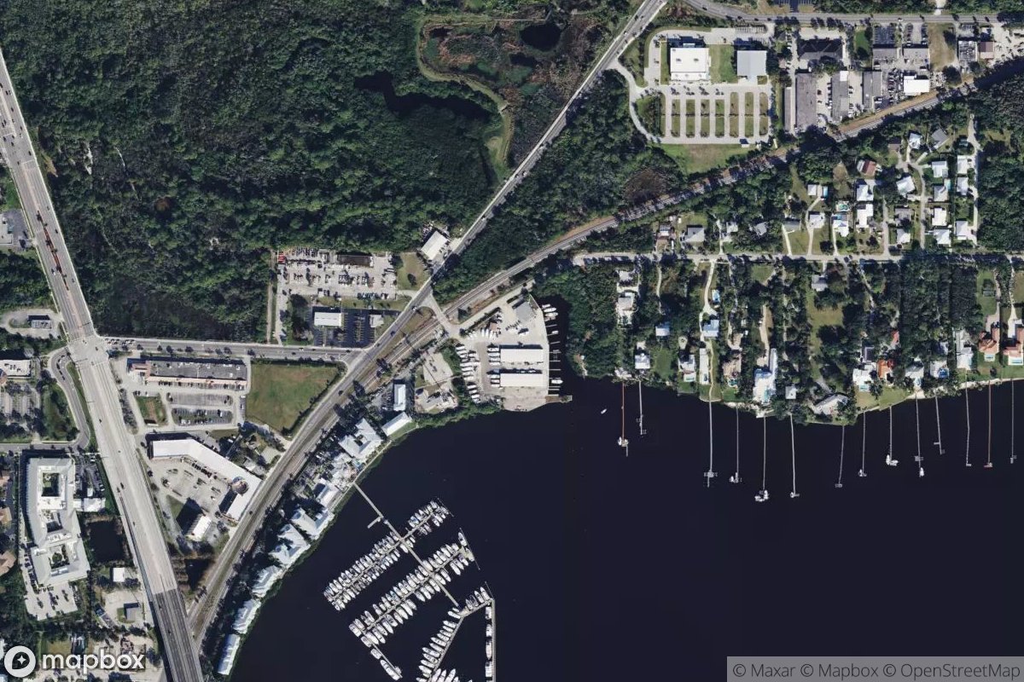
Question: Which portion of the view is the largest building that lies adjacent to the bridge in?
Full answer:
You can find the largest building that lies adjacent to the bridge in the bottom left area of the picture.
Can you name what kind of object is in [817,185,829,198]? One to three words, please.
swimming pool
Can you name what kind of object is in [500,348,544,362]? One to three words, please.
shed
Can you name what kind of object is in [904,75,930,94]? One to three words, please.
building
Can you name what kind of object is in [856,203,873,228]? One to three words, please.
house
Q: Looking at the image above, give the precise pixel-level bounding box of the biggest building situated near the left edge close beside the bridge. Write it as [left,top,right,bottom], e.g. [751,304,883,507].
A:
[28,457,89,585]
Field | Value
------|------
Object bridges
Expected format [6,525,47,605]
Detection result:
[104,460,202,682]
